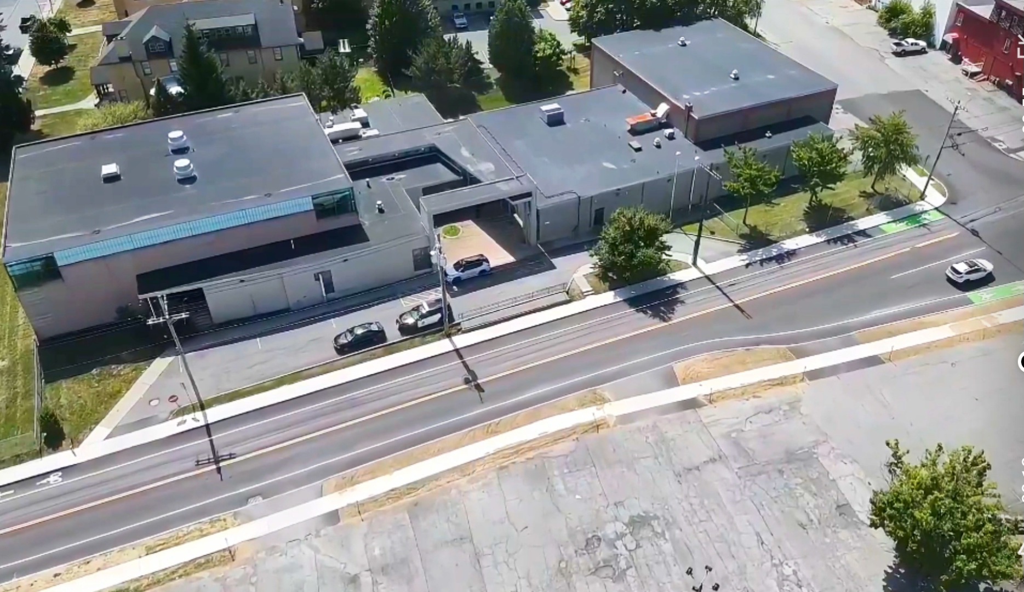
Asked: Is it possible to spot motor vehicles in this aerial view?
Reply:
Yes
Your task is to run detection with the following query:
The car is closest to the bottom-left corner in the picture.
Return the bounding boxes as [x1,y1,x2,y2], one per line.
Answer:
[331,316,387,349]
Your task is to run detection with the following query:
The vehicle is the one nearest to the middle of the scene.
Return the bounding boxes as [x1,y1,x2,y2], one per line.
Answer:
[444,250,490,280]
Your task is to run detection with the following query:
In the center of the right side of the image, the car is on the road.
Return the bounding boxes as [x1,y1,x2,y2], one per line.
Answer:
[945,257,997,284]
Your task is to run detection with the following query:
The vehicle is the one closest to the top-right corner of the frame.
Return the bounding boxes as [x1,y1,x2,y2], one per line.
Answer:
[890,38,931,56]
